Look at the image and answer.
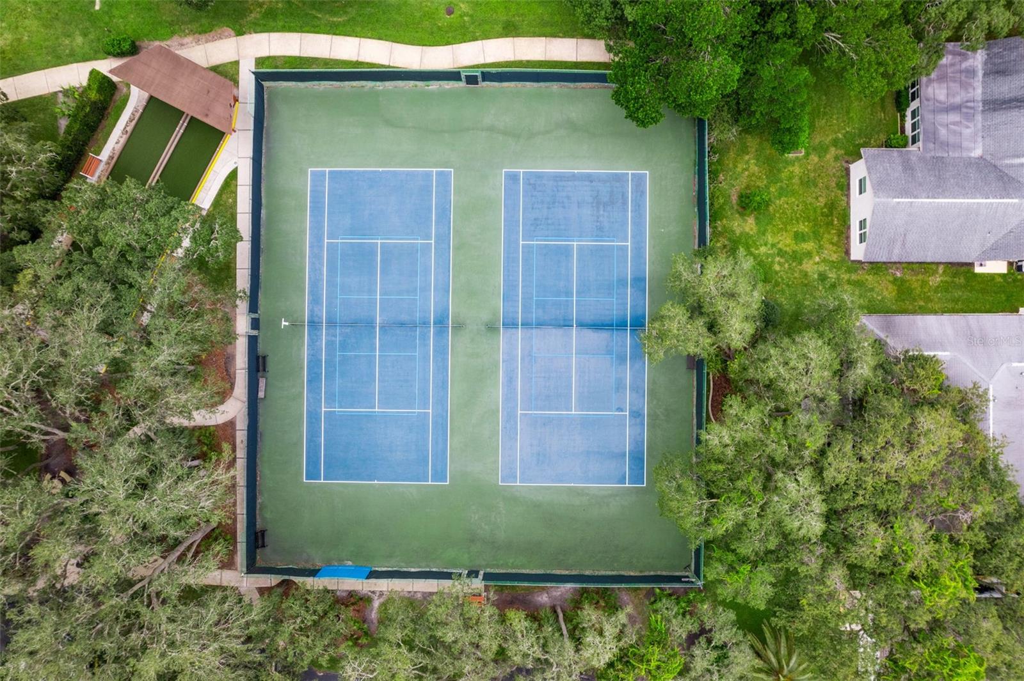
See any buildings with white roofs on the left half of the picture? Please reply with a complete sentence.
No, I can find no building with a white roof on the left half of the picture.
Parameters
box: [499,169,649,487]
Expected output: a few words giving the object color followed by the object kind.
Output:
blue tennis court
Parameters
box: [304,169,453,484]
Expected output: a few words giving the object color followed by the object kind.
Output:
blue tennis court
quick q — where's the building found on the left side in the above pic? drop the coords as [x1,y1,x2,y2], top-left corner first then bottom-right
[109,44,236,134]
